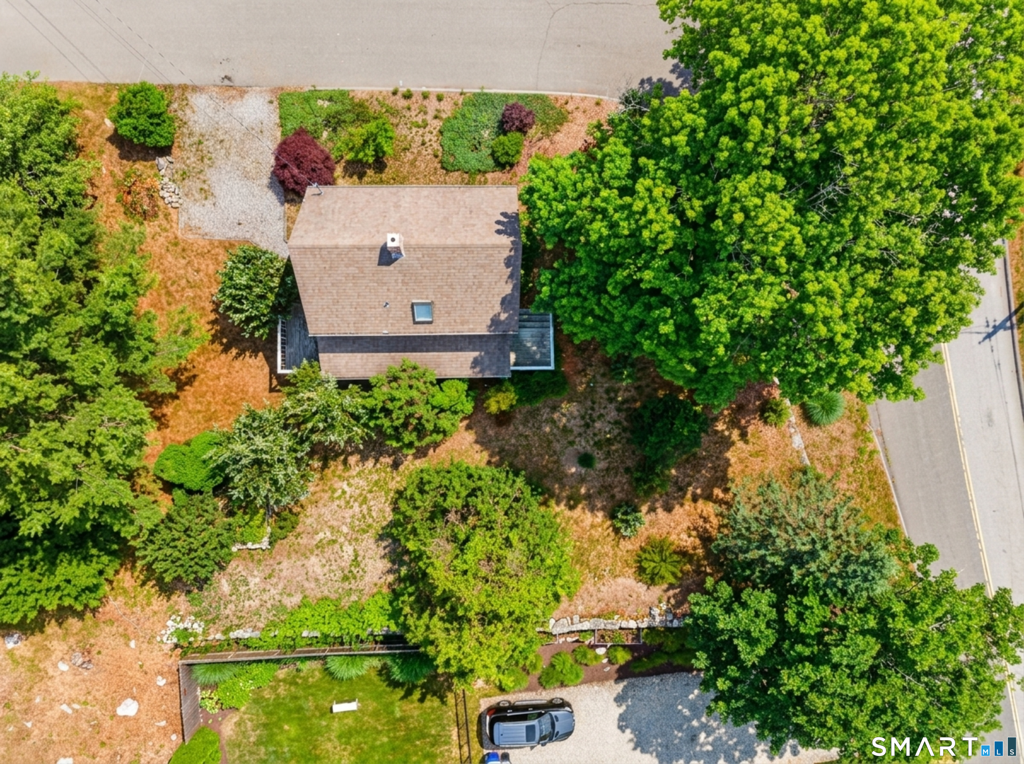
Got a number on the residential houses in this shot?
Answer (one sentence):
The count comes to 1 residential house.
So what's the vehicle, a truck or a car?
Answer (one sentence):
It turns out the vehicle is a car.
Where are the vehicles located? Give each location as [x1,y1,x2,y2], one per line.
[480,696,575,748]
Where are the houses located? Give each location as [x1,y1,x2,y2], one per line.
[284,184,521,379]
